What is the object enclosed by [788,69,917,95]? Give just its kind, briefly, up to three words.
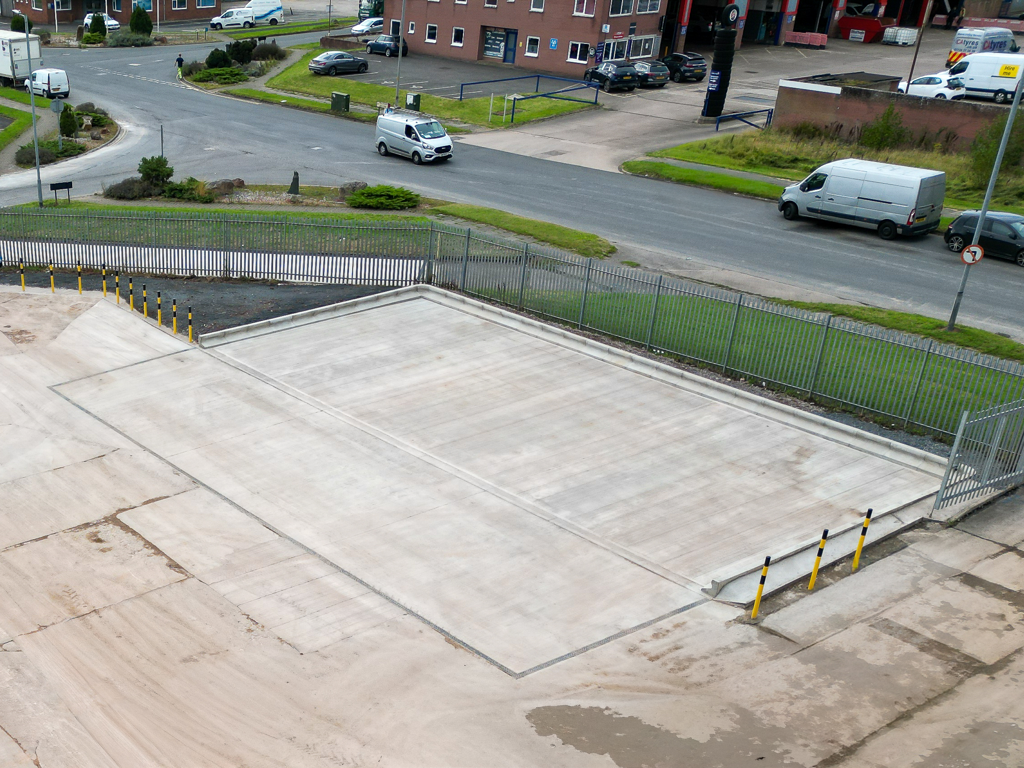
building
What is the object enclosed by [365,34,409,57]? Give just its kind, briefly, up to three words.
car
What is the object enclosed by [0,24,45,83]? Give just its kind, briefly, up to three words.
truck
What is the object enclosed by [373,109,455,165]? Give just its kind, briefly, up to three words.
van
